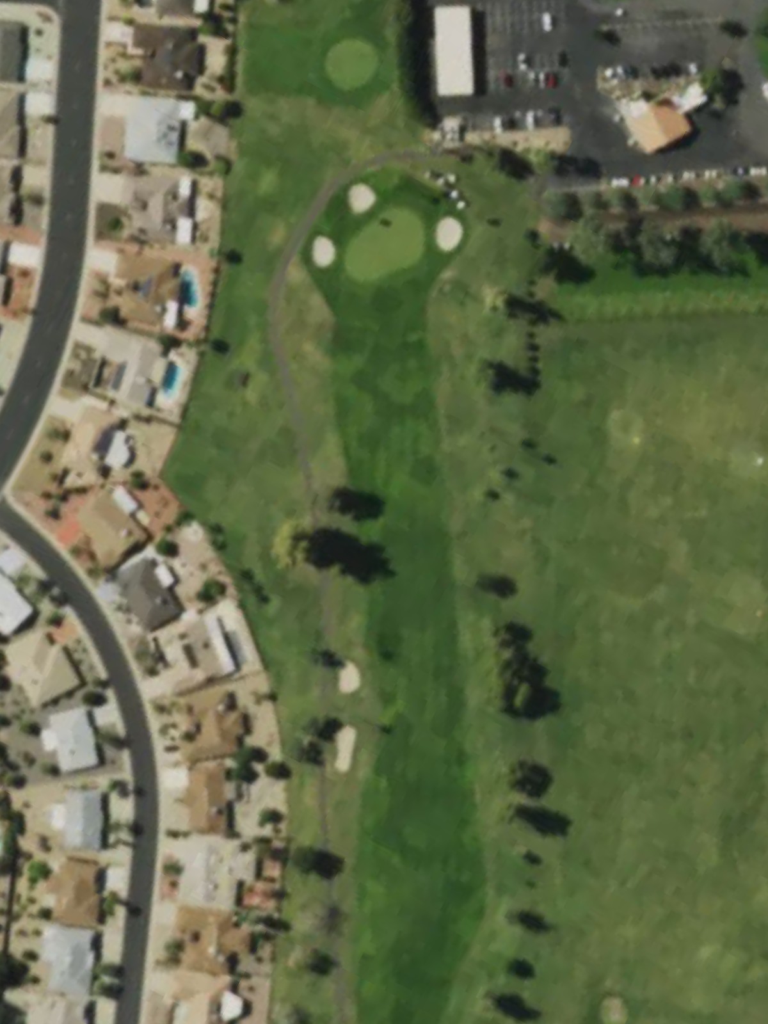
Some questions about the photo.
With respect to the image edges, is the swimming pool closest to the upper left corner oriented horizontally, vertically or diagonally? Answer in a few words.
vertically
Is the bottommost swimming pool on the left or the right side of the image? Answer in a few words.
left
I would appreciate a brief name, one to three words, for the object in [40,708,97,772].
house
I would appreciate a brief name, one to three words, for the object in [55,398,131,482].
house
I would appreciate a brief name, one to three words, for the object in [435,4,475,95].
building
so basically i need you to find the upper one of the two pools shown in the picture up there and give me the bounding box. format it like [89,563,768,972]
[180,265,200,309]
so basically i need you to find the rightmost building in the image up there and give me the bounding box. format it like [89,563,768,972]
[625,83,707,154]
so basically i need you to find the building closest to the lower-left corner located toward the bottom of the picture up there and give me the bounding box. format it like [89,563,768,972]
[27,996,88,1024]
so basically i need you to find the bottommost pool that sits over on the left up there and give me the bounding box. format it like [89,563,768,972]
[161,359,183,399]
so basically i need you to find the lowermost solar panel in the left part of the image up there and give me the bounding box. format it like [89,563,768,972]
[90,426,113,454]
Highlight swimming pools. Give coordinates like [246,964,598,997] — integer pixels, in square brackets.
[180,265,200,309]
[161,359,183,399]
